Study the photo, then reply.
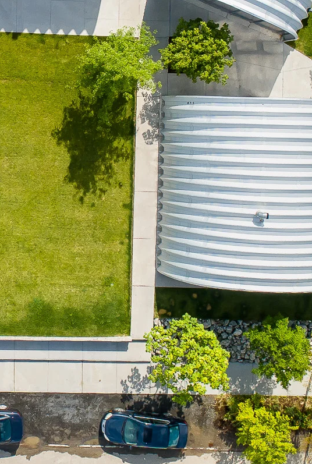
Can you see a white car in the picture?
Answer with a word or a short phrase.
No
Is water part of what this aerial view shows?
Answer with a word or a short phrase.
No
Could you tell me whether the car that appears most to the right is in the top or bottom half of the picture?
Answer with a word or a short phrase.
bottom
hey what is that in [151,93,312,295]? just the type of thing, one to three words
shed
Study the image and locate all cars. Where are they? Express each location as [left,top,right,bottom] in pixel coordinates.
[98,405,189,451]
[0,406,22,445]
